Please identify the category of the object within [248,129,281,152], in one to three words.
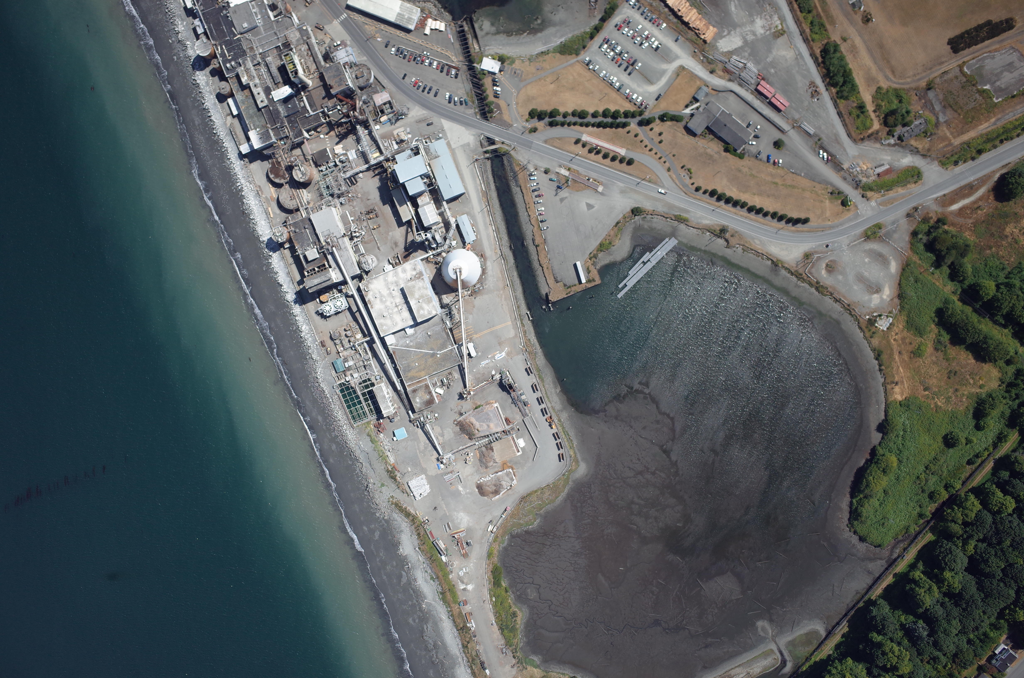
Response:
building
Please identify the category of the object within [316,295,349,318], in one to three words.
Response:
cooling tower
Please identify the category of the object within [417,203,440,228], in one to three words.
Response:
building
